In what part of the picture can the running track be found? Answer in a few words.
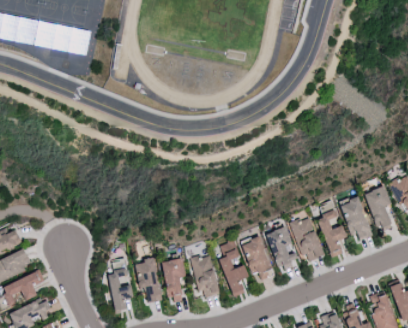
top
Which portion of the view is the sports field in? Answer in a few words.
top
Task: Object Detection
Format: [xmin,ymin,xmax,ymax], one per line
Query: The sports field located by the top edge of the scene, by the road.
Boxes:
[137,0,270,95]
